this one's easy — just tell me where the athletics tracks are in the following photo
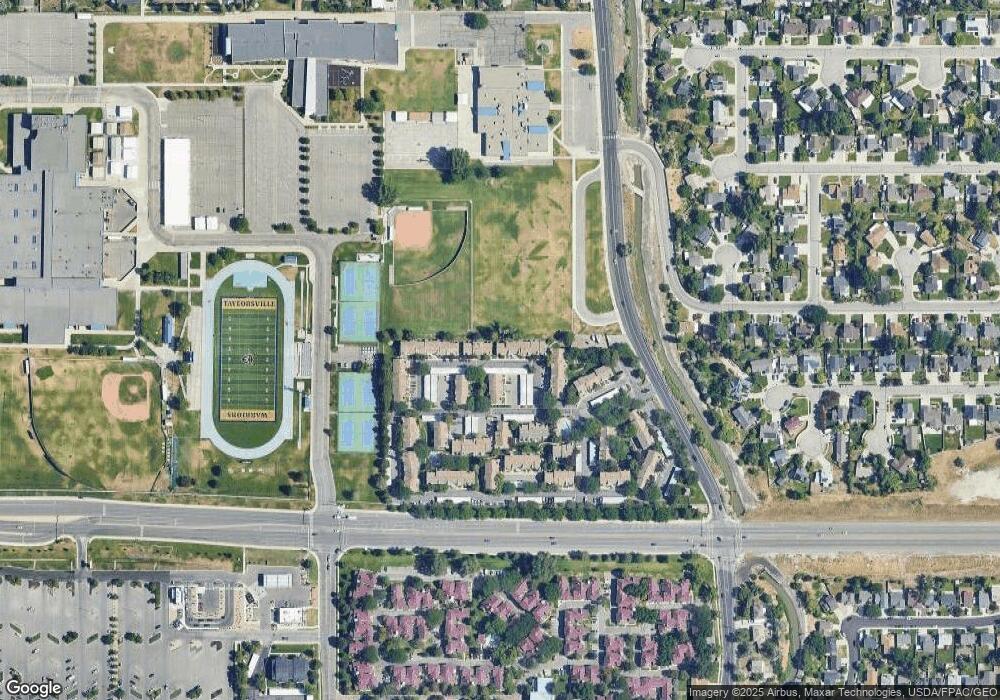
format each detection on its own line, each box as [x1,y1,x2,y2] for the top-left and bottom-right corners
[202,261,296,459]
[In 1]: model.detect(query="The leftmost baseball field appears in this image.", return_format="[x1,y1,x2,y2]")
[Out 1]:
[103,372,153,421]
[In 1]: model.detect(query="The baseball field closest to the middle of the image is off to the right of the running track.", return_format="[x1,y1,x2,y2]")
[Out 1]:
[392,210,466,284]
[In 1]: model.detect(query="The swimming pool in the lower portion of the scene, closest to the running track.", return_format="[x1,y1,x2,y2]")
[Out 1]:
[429,452,444,468]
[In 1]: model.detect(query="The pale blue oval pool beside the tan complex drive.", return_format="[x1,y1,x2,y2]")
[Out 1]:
[557,418,573,440]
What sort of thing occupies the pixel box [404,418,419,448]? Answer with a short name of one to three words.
building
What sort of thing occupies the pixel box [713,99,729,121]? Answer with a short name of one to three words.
house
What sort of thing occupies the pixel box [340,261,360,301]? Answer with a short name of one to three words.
tennis court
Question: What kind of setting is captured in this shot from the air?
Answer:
residential area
